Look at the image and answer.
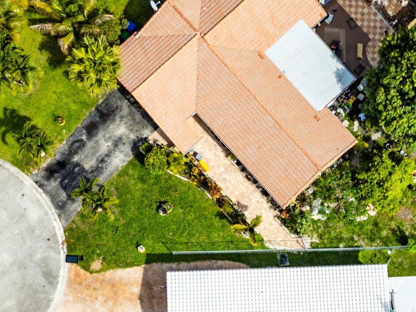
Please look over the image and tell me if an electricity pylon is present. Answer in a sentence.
No, there appears to be no electricity pylon in this shot.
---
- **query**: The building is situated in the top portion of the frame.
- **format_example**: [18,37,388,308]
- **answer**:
[119,0,358,209]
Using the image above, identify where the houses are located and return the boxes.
[167,264,390,312]
[119,0,358,209]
